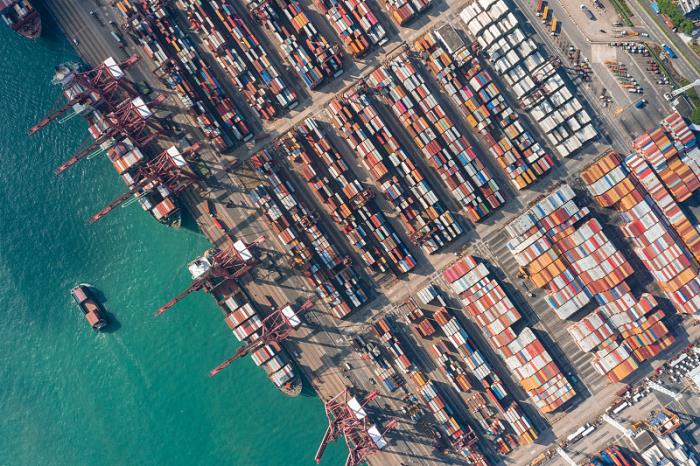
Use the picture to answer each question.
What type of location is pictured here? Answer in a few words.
port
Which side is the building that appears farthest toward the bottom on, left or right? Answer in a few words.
right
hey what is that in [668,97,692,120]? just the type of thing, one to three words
building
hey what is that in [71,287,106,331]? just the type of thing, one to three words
ship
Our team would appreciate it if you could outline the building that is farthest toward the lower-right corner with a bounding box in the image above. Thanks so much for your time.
[629,428,654,450]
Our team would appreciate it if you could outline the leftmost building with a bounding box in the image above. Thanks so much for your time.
[433,23,463,57]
